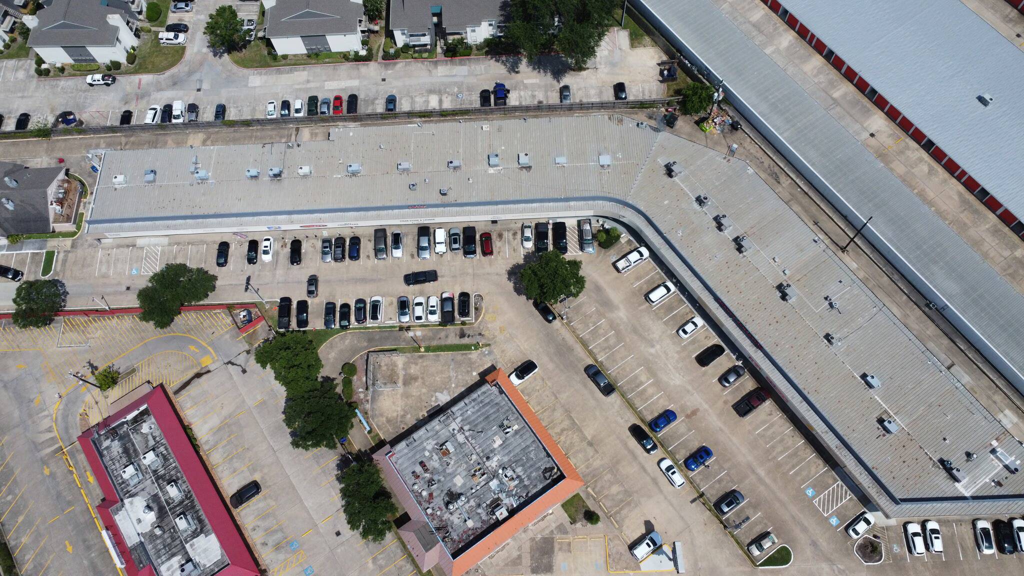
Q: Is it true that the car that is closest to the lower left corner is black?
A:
Yes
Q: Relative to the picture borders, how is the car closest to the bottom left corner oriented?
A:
on a diagonal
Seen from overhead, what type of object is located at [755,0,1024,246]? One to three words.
building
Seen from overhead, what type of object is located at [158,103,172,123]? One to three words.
car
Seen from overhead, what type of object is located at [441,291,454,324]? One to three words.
vehicle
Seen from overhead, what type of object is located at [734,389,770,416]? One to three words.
truck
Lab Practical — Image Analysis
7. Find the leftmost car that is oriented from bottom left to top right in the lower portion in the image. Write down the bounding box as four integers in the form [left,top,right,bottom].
[230,479,263,509]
